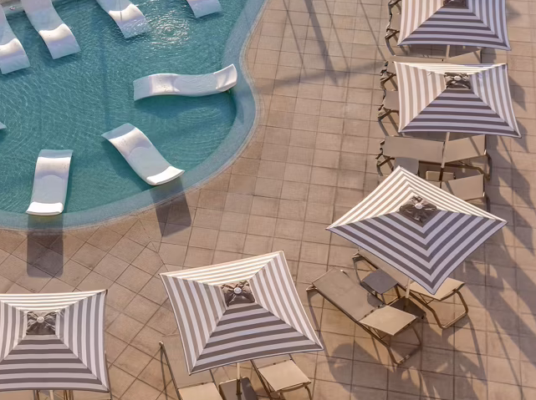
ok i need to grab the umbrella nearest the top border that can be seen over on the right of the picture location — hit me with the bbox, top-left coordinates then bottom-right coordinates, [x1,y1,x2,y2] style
[396,0,509,64]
